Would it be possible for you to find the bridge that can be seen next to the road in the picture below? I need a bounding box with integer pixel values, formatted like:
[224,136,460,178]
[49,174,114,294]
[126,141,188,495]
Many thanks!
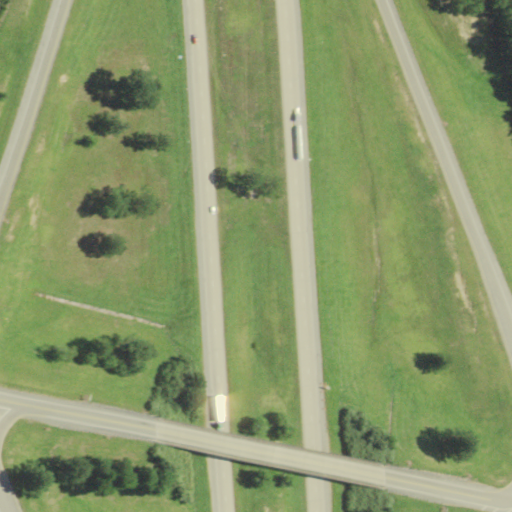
[154,420,386,489]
